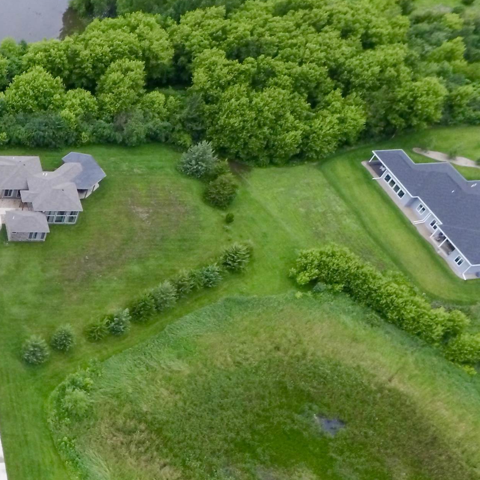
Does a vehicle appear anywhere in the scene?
No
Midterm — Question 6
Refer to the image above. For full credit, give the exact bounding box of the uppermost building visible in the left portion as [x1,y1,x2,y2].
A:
[0,152,107,222]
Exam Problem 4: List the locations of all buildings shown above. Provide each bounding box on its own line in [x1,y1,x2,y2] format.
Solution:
[0,152,107,222]
[367,149,480,274]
